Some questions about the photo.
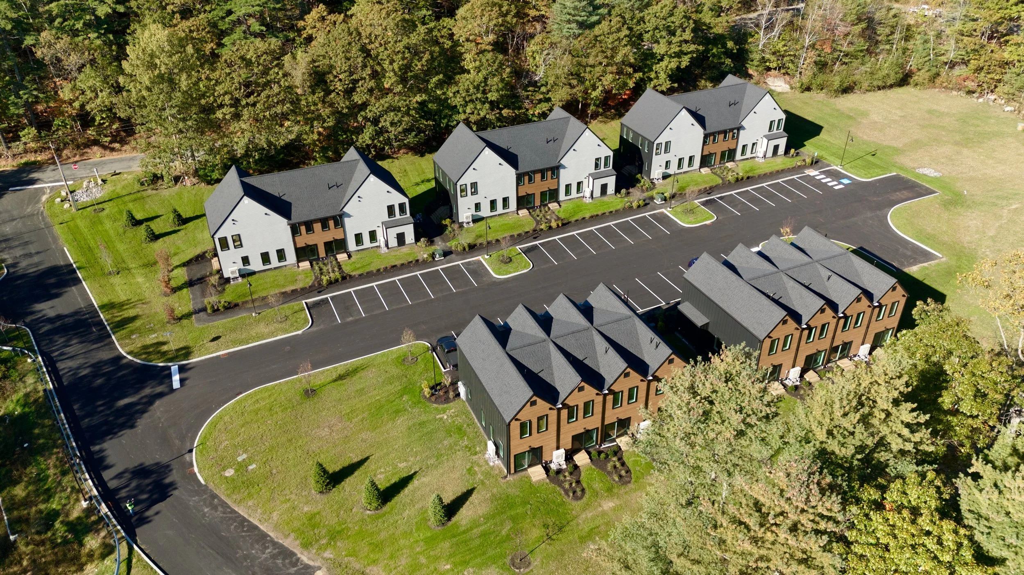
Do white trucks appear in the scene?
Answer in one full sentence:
No, no white truck is visible in the view.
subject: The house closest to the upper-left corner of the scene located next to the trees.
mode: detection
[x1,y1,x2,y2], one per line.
[204,146,415,279]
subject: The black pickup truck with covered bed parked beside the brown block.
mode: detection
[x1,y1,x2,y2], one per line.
[433,325,459,364]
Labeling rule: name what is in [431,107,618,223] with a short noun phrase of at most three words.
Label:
house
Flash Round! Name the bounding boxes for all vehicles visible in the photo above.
[433,325,459,364]
[687,257,699,268]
